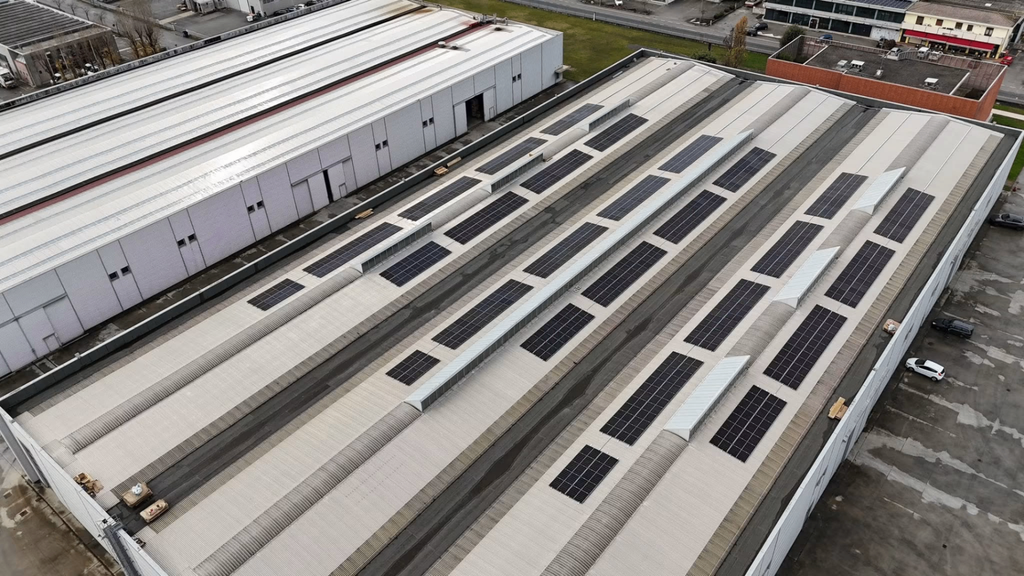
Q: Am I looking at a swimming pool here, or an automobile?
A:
automobile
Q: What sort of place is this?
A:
industrial area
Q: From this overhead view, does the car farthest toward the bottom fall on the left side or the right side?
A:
right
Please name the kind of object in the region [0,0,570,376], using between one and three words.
warehouse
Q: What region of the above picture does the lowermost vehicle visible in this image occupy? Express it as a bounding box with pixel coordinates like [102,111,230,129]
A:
[905,357,947,381]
